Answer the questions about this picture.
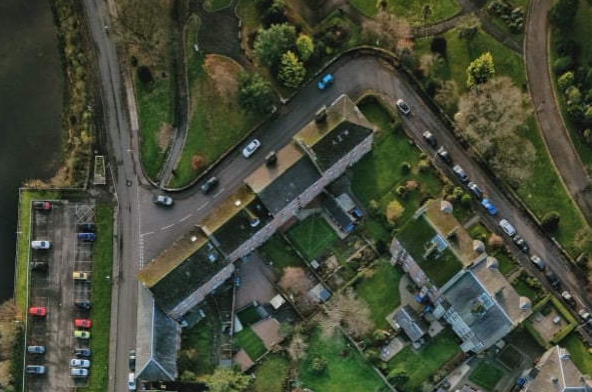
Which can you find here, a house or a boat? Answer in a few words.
house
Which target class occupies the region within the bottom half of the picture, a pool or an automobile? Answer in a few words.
automobile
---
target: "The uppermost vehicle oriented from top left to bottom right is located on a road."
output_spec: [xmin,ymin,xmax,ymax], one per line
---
[395,96,411,113]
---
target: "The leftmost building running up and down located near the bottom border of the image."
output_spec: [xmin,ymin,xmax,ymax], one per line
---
[135,280,182,380]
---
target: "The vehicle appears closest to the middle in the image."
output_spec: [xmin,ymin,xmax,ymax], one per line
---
[242,139,260,155]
